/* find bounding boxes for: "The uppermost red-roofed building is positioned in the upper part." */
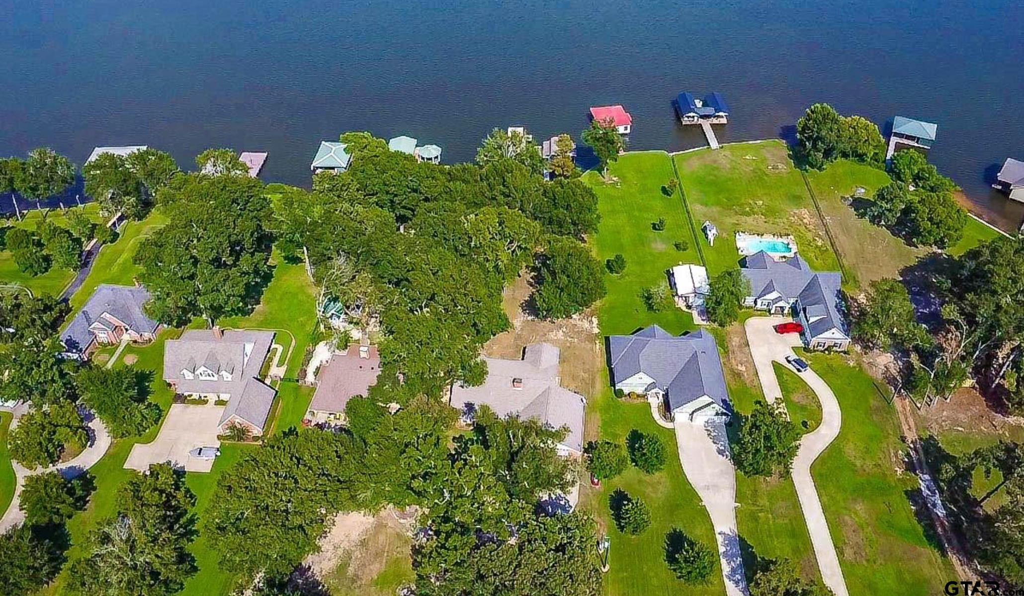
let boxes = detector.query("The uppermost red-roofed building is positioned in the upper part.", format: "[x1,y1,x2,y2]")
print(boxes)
[590,107,632,141]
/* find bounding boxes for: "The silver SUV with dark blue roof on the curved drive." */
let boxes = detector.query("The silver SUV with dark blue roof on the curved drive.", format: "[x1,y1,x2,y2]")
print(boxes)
[783,352,813,373]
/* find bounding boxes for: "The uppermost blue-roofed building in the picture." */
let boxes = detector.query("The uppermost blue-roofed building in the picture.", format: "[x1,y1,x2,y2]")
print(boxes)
[673,90,731,131]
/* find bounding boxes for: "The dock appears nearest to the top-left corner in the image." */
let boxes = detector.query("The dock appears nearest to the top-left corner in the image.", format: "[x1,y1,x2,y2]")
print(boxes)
[234,149,269,182]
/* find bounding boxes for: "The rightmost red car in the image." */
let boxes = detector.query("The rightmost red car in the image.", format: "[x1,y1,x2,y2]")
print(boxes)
[775,323,805,337]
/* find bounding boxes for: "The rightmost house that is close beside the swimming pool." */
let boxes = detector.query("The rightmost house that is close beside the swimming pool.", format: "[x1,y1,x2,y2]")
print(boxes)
[729,246,853,351]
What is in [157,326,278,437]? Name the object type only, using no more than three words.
house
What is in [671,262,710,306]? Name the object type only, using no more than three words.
shed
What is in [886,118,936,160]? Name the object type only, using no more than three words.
building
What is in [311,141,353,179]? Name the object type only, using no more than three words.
building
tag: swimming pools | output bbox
[736,231,798,260]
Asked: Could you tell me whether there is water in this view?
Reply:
Yes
